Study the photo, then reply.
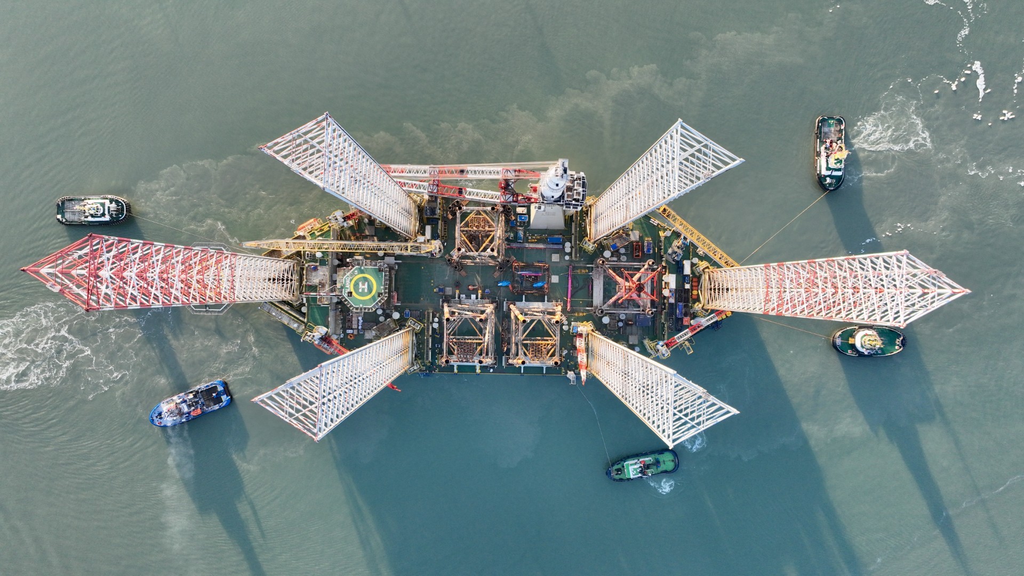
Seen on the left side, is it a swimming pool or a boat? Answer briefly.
boat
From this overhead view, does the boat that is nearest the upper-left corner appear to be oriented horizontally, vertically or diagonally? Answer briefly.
horizontally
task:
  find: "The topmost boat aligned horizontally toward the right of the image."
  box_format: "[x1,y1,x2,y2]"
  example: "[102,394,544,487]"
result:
[830,325,907,357]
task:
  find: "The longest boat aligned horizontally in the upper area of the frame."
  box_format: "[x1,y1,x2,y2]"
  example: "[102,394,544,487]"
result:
[56,195,135,225]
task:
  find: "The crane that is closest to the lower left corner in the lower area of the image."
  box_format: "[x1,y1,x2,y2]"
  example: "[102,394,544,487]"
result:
[303,323,402,392]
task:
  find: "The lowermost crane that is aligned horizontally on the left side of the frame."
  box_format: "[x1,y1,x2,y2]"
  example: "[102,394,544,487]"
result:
[240,239,445,257]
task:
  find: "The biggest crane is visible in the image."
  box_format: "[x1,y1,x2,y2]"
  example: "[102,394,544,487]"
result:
[314,159,588,230]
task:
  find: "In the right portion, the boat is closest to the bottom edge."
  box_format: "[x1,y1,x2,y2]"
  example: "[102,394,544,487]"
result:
[605,449,679,481]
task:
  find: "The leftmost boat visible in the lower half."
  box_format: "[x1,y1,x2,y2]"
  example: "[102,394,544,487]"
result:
[149,378,234,427]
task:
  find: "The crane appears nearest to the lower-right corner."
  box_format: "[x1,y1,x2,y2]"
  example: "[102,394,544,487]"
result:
[643,304,737,359]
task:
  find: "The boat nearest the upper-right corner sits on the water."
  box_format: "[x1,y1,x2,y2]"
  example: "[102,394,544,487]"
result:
[812,115,849,192]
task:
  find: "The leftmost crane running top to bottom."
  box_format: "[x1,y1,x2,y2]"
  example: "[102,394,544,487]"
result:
[572,321,587,387]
